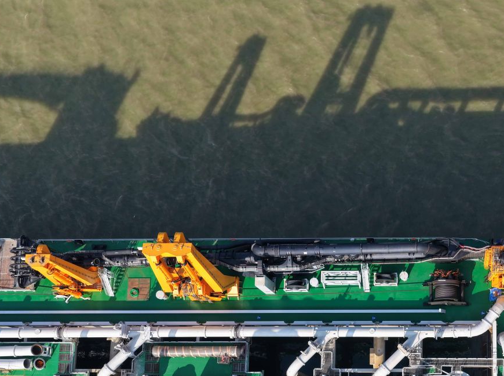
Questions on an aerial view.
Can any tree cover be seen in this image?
No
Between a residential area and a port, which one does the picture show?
port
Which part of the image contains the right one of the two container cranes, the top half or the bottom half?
bottom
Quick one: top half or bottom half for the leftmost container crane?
bottom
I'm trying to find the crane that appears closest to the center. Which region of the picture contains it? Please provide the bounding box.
[144,235,236,303]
